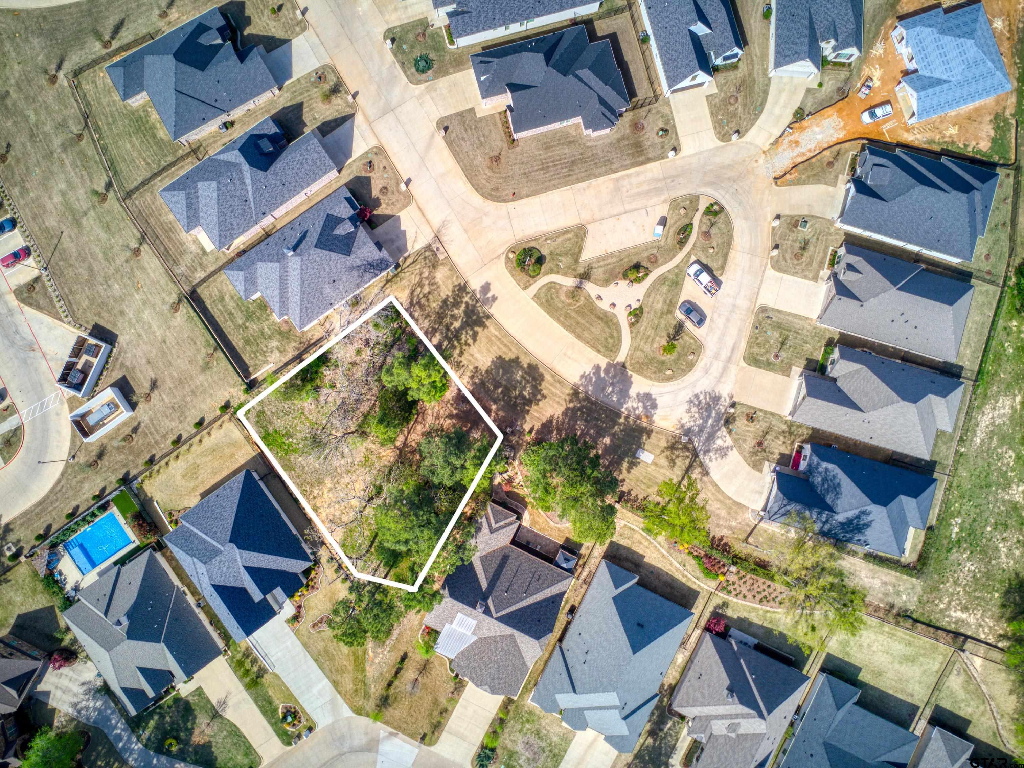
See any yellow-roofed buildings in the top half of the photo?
No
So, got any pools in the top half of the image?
No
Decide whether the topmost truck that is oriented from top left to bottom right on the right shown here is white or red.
white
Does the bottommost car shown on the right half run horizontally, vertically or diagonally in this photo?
diagonally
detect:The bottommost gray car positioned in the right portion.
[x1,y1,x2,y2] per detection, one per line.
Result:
[677,298,710,331]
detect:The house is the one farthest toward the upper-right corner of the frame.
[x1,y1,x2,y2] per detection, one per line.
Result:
[887,2,1012,128]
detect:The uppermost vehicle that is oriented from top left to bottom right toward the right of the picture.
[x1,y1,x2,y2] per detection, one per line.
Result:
[686,259,724,299]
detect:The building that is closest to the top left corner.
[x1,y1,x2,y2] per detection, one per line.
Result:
[105,6,283,147]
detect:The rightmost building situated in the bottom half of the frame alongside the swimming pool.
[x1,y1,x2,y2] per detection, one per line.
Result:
[163,468,317,643]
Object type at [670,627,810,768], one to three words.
house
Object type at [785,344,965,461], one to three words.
house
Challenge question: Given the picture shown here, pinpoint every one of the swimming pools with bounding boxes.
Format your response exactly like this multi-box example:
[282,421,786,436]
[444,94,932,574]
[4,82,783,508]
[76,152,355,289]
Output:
[62,510,133,577]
